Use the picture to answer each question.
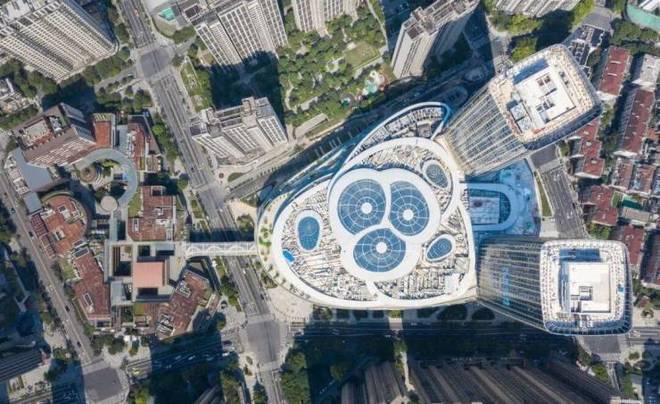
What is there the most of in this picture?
buildings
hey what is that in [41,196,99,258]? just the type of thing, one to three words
building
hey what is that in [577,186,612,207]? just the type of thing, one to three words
house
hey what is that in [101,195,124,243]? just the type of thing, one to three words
building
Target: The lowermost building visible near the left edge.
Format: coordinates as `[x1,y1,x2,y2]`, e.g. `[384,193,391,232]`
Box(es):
[0,342,46,389]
